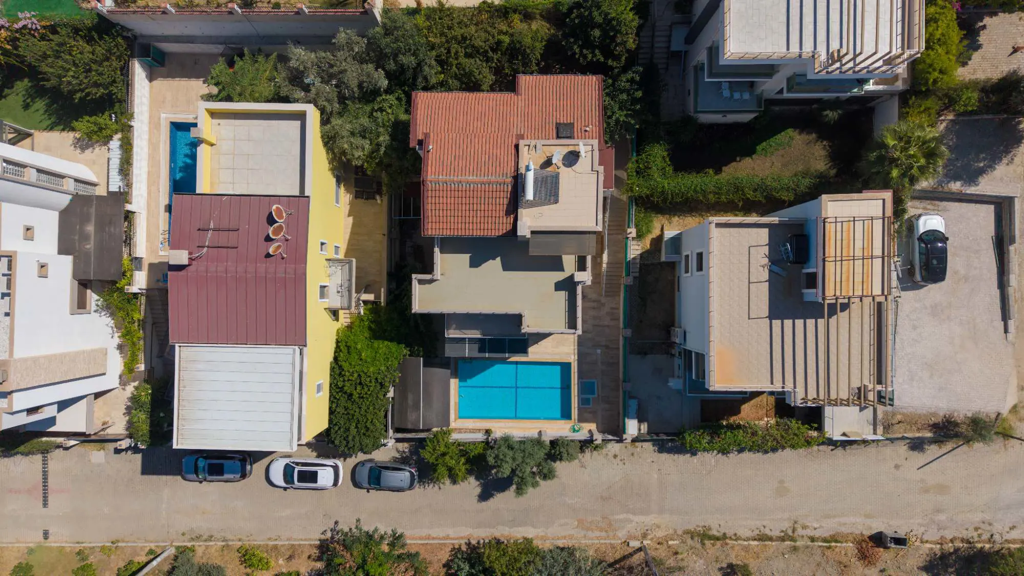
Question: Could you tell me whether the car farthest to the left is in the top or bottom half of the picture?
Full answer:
The car farthest to the left sits in the bottom half of the picture.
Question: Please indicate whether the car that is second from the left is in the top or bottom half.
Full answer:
The bottom half of the photo is where the car that is second from the left is.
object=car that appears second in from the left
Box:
[270,455,346,493]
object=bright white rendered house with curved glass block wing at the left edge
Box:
[0,139,133,438]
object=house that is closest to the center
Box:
[408,72,614,357]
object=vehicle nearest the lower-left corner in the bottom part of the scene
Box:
[183,450,256,487]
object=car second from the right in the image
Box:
[356,458,420,494]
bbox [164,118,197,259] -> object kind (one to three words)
swimming pool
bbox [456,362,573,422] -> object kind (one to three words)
swimming pool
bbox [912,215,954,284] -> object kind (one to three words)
car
